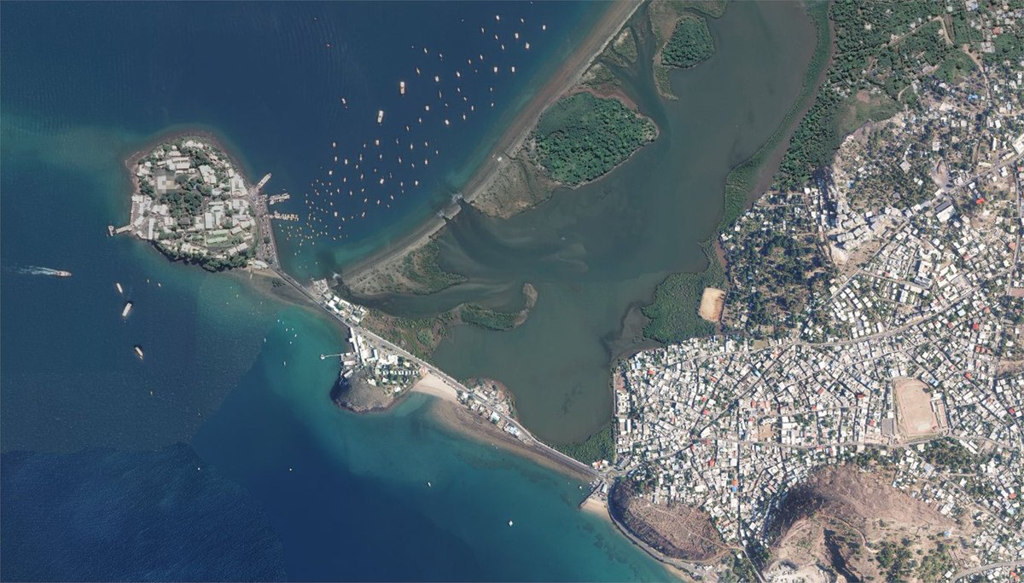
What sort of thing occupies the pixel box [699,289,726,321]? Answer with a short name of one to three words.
sports field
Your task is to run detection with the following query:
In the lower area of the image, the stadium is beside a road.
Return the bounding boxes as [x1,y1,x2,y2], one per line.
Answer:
[892,373,942,441]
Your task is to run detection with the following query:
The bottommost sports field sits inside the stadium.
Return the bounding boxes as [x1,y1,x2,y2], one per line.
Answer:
[900,380,932,431]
